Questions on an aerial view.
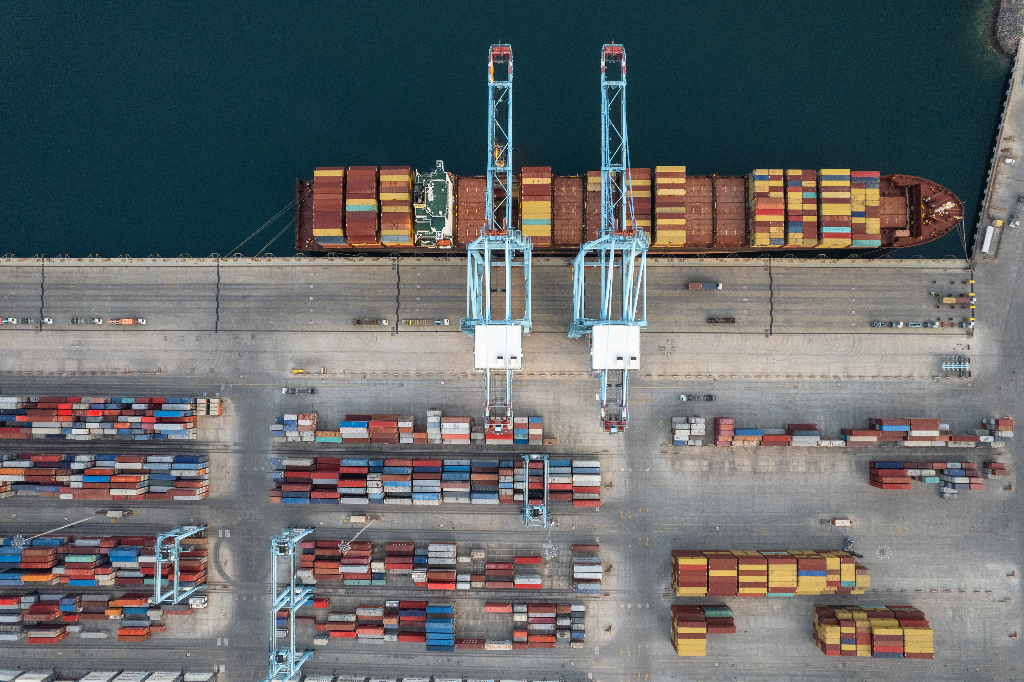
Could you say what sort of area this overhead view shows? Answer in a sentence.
The picture captures a port.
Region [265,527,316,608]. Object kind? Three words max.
crane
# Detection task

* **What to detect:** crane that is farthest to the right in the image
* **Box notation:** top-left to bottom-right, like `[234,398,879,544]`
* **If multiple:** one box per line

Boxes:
[565,37,649,438]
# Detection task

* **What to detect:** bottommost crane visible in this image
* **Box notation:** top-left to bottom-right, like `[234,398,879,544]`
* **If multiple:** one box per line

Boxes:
[264,594,315,677]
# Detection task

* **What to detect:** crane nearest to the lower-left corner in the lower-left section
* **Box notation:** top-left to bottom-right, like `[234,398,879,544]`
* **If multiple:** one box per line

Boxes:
[150,524,208,604]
